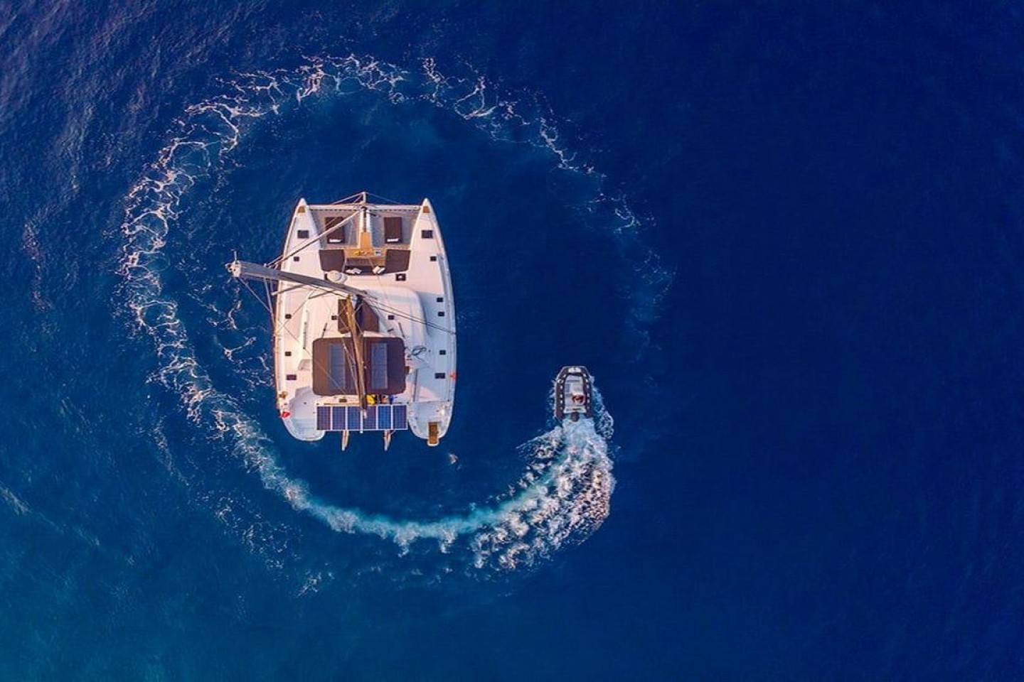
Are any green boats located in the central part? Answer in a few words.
No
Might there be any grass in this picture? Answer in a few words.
No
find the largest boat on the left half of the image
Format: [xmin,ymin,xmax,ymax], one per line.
[226,192,456,451]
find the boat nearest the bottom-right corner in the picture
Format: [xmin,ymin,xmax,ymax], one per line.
[556,365,593,421]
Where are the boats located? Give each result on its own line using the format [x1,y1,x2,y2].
[226,192,456,451]
[556,365,593,421]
